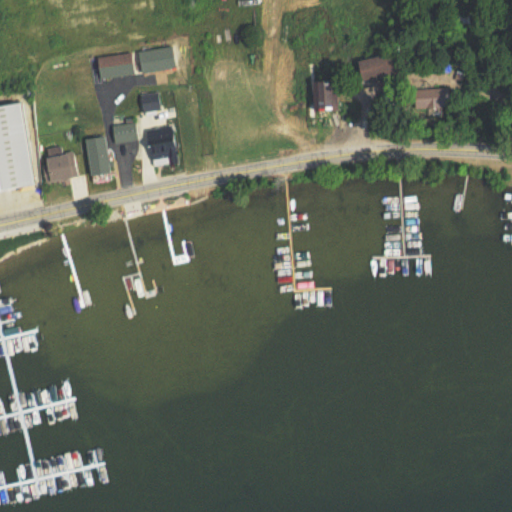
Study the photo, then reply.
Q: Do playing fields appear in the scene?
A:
No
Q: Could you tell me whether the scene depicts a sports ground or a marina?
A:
marina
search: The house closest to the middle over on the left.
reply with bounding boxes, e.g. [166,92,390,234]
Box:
[140,126,179,166]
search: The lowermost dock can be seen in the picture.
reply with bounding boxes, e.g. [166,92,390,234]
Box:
[0,318,106,500]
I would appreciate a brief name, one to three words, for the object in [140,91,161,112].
shed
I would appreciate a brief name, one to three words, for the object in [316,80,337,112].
house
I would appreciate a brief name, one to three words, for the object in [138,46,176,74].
building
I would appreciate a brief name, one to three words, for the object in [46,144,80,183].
house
